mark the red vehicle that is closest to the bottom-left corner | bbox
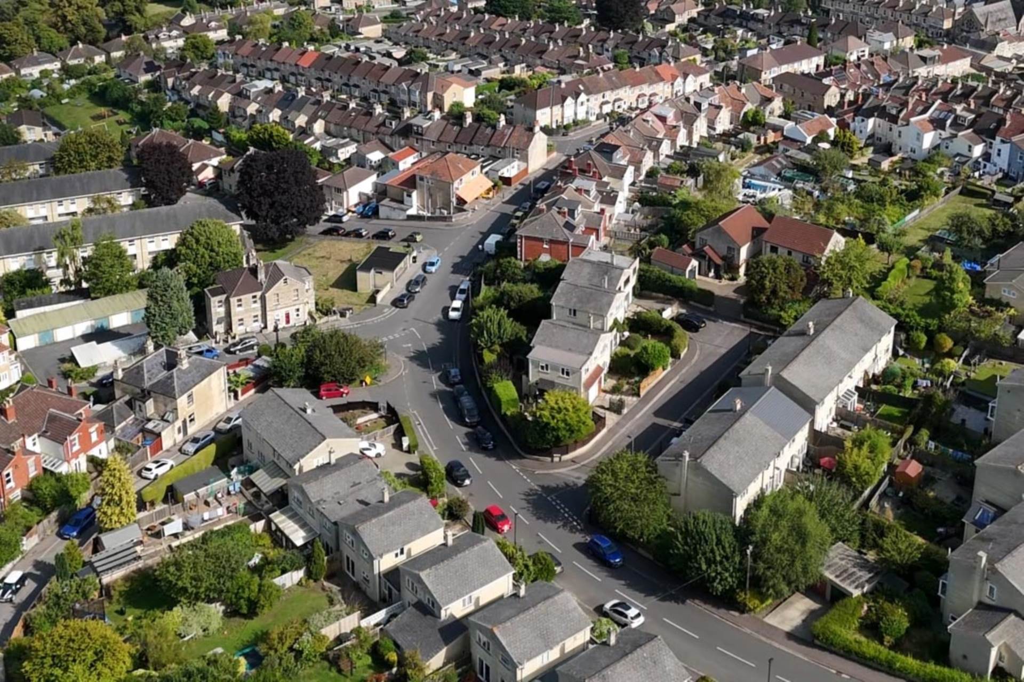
[319,384,350,401]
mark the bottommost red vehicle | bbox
[484,502,510,530]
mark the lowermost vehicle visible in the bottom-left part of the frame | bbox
[0,570,24,599]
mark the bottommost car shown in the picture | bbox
[602,599,646,626]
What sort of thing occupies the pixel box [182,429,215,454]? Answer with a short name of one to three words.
car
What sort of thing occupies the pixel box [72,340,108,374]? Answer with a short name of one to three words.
shed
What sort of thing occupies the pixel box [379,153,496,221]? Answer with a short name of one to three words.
building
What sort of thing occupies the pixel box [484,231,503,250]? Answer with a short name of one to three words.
vehicle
